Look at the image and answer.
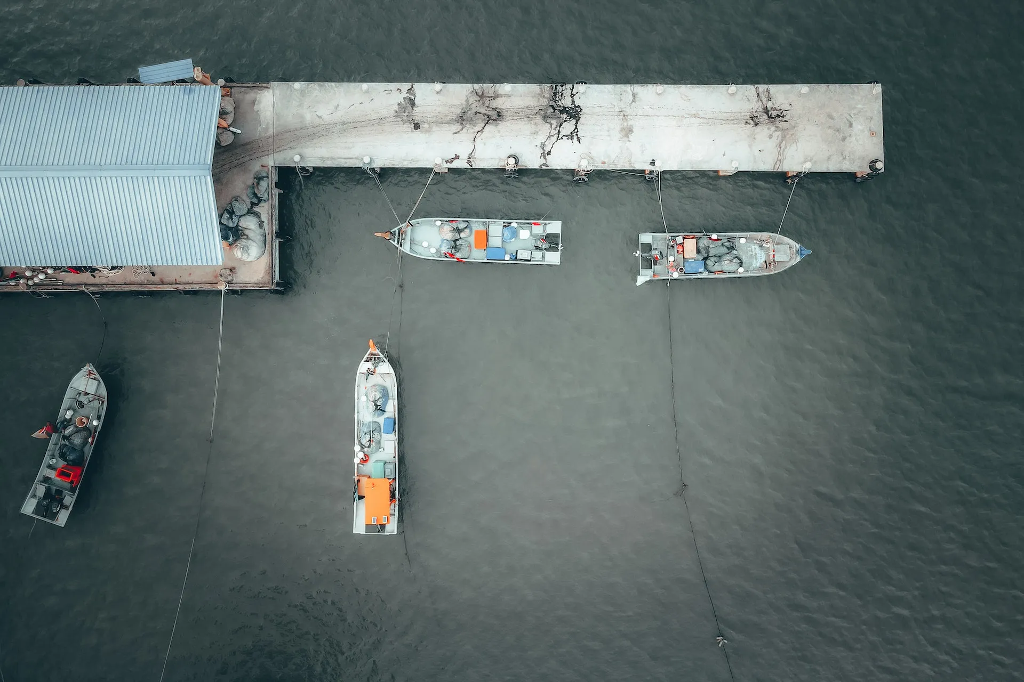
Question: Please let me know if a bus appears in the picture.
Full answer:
No, this view has no bus in it.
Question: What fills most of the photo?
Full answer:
What you mostly see from above here is water.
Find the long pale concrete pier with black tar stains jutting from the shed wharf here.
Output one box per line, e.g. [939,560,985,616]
[274,82,884,179]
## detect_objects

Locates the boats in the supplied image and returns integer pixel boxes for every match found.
[353,339,399,535]
[374,211,563,265]
[634,231,812,286]
[20,364,113,527]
